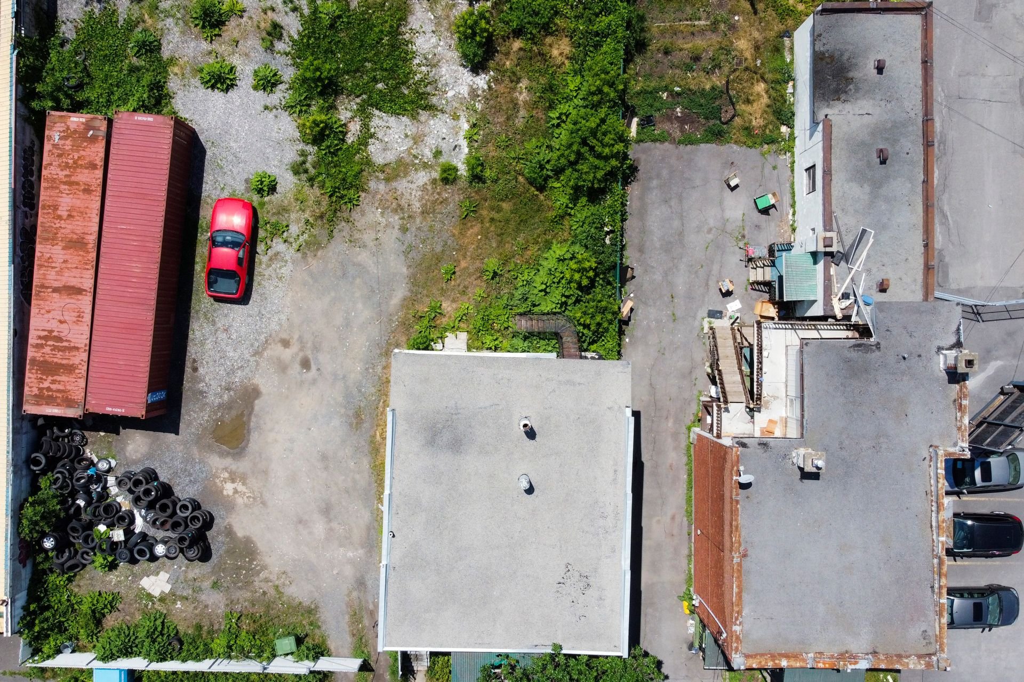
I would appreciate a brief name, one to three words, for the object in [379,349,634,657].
house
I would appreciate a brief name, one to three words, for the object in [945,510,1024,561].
car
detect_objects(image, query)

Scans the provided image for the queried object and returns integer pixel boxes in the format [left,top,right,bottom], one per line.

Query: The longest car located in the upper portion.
[204,199,257,302]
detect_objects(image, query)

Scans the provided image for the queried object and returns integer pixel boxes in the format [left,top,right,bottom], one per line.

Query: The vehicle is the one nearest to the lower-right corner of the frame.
[946,583,1019,635]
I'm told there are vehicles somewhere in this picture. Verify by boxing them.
[945,510,1024,561]
[946,583,1019,635]
[942,450,1021,497]
[204,199,257,302]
